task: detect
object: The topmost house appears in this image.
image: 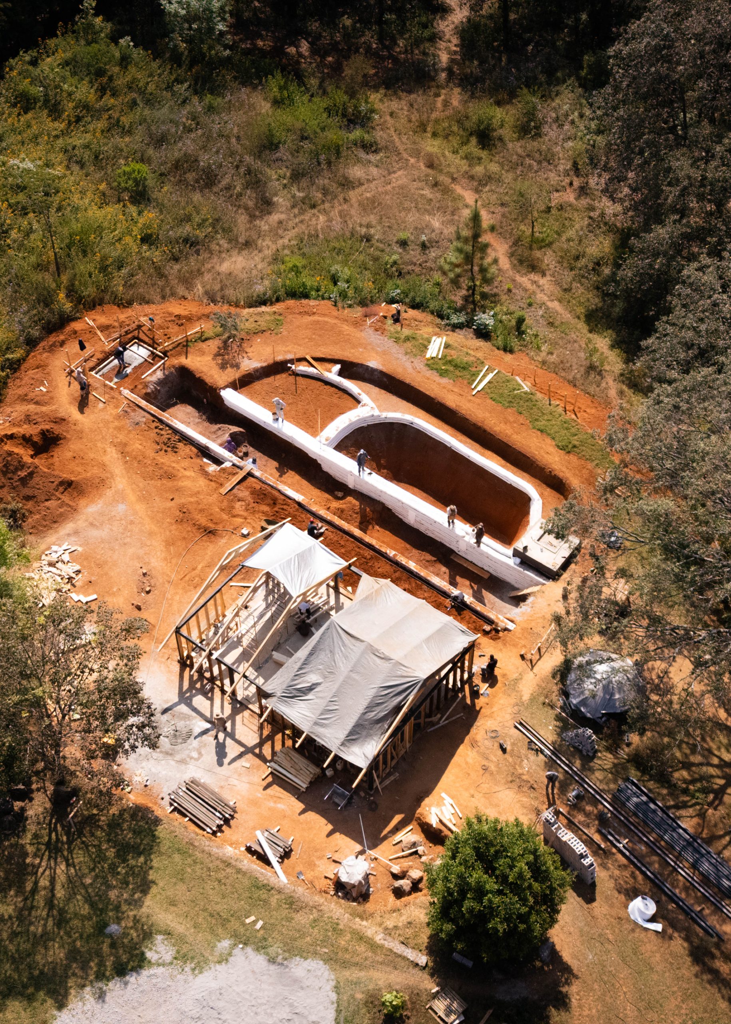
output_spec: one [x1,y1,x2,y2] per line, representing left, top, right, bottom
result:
[153,520,484,790]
